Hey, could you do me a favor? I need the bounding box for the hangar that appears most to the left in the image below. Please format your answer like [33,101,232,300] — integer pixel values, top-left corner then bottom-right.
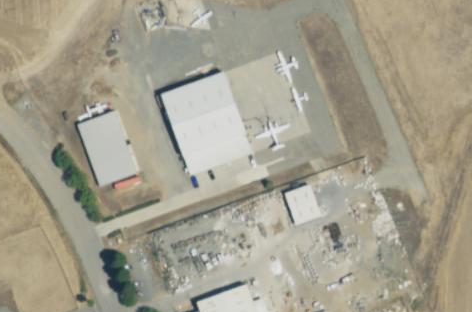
[78,110,139,186]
